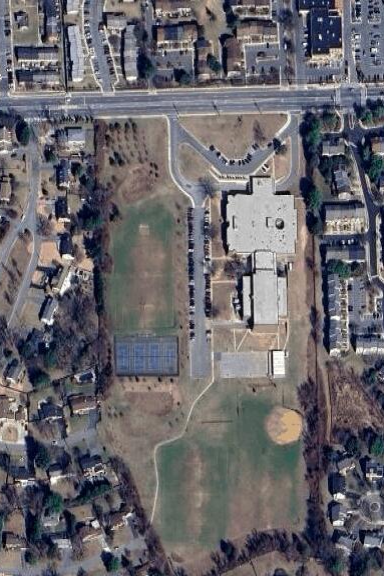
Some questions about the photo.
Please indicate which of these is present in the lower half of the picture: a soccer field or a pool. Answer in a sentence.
Looking in the lower half of the picture, you will find a soccer field.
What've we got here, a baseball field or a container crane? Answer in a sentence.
There is a baseball field in the scene.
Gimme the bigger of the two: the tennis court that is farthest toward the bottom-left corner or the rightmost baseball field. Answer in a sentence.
Of the two, the tennis court is larger and the baseball field is the smaller one.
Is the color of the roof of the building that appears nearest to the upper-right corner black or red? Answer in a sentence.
In this view, the roof of the building that appears nearest to the upper-right corner is black.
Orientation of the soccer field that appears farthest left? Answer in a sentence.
From this overhead view, the soccer field that appears farthest left appears to run from top to bottom.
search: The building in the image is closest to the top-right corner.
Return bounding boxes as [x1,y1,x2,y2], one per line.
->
[299,0,343,58]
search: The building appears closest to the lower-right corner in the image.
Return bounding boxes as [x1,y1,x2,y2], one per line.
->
[362,532,384,551]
